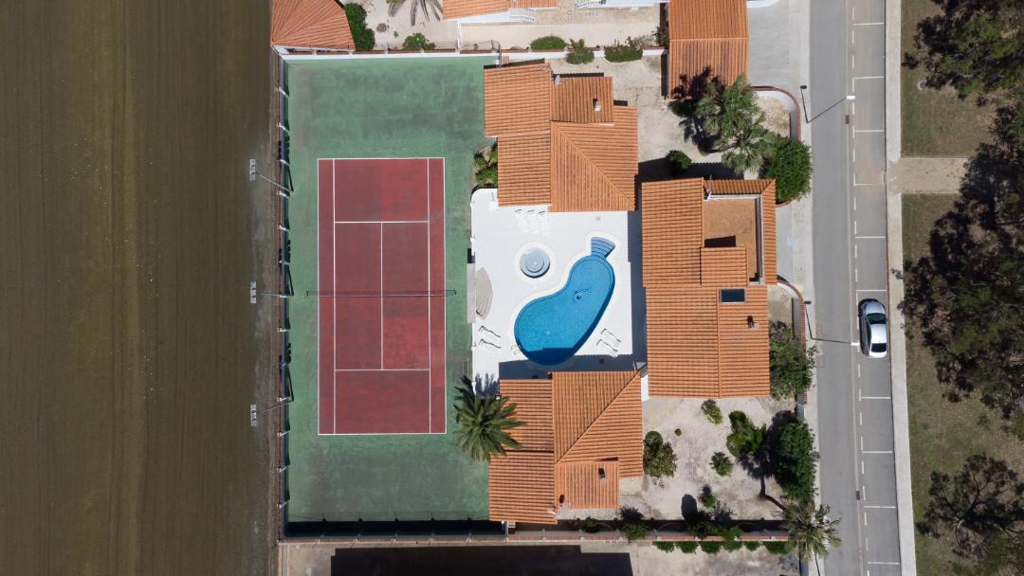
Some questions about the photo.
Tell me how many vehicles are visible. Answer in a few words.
1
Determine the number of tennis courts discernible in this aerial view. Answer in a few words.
1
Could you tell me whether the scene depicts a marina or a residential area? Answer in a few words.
residential area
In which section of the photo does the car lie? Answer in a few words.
right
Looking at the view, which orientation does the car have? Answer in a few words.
from top to bottom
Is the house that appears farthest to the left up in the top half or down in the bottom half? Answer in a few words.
top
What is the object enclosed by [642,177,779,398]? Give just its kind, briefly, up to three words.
house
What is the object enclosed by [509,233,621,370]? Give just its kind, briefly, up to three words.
swimming pool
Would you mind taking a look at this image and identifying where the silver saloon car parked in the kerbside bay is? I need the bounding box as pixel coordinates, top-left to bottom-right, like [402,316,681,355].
[861,303,890,357]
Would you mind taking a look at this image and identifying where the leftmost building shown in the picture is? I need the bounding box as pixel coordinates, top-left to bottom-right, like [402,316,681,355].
[272,0,356,51]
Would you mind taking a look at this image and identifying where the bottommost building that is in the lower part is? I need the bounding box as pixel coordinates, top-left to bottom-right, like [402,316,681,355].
[488,371,645,526]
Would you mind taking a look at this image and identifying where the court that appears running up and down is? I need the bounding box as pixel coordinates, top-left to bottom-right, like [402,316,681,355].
[287,59,499,531]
